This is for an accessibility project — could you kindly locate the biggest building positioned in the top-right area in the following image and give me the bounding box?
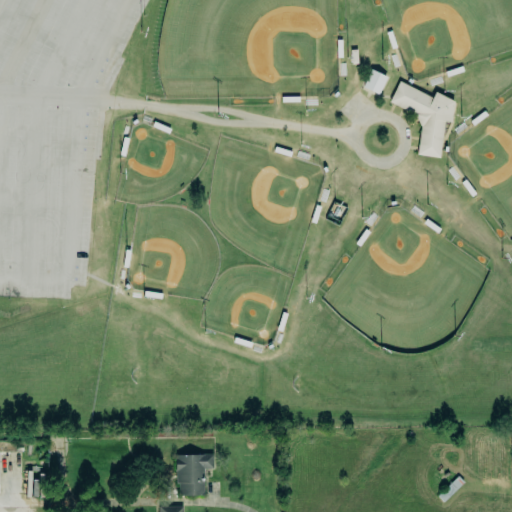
[392,80,457,158]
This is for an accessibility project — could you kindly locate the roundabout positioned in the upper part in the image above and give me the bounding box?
[340,92,412,170]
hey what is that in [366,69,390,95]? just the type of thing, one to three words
building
